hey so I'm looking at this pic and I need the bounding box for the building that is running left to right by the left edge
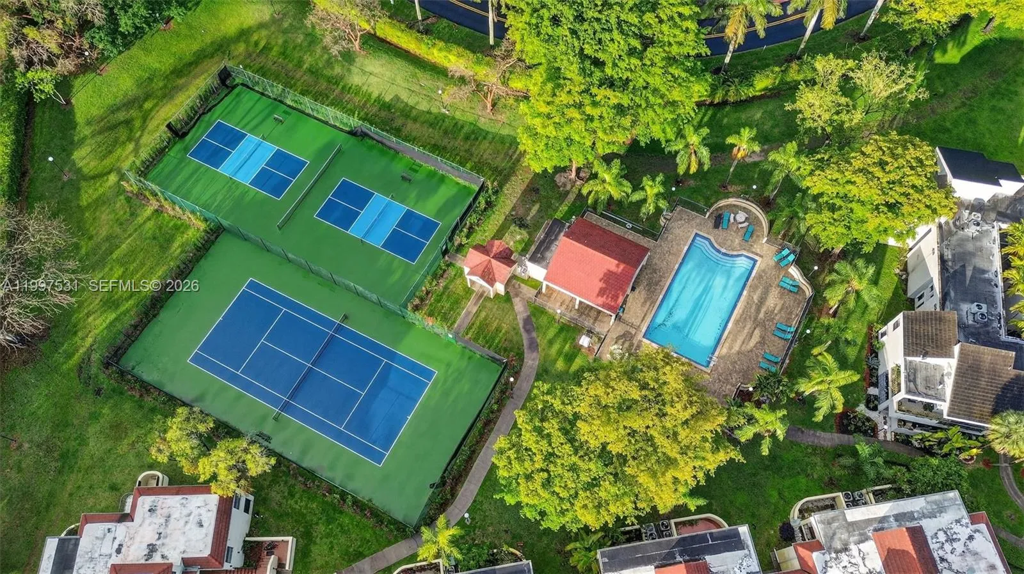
[36,486,248,574]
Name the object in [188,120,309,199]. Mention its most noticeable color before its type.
blue sports court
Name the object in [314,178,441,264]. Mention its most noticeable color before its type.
blue sports court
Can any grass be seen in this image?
Yes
